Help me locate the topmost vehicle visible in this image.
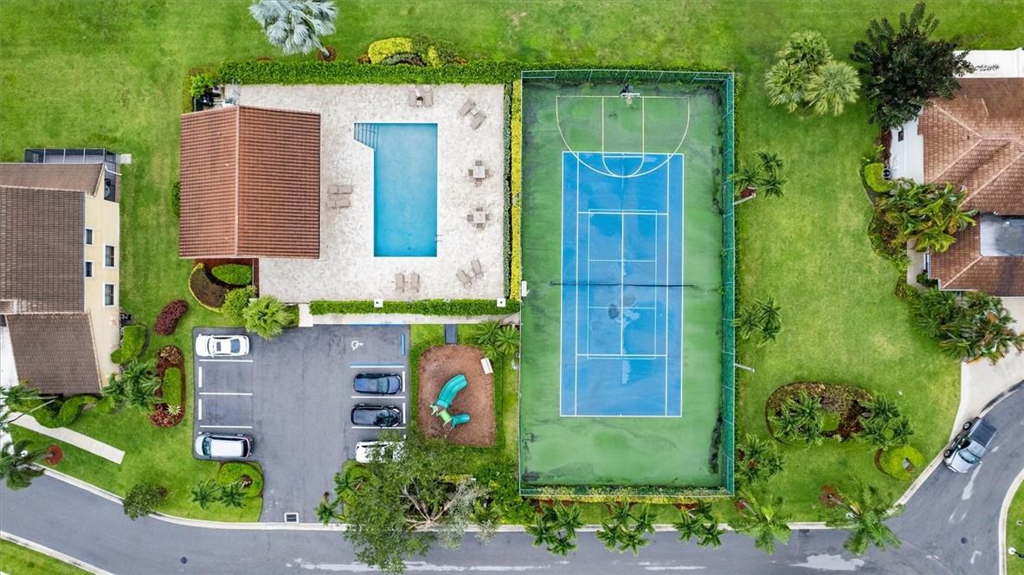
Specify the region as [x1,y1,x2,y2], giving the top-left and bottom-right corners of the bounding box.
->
[195,333,252,359]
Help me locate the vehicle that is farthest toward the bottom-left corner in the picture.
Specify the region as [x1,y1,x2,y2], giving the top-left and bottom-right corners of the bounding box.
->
[196,433,255,460]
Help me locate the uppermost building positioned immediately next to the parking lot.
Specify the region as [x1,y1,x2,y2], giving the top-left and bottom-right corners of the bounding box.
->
[178,105,321,259]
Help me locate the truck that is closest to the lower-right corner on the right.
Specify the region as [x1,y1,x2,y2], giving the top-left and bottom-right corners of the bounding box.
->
[945,417,1000,475]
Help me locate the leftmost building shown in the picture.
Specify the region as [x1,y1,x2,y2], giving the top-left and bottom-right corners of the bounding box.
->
[0,162,121,394]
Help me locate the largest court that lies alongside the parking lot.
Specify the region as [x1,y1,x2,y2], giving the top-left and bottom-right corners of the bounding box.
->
[520,151,723,486]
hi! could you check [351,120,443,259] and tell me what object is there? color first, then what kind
blue swimming pool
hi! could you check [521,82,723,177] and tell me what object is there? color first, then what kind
green basketball court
